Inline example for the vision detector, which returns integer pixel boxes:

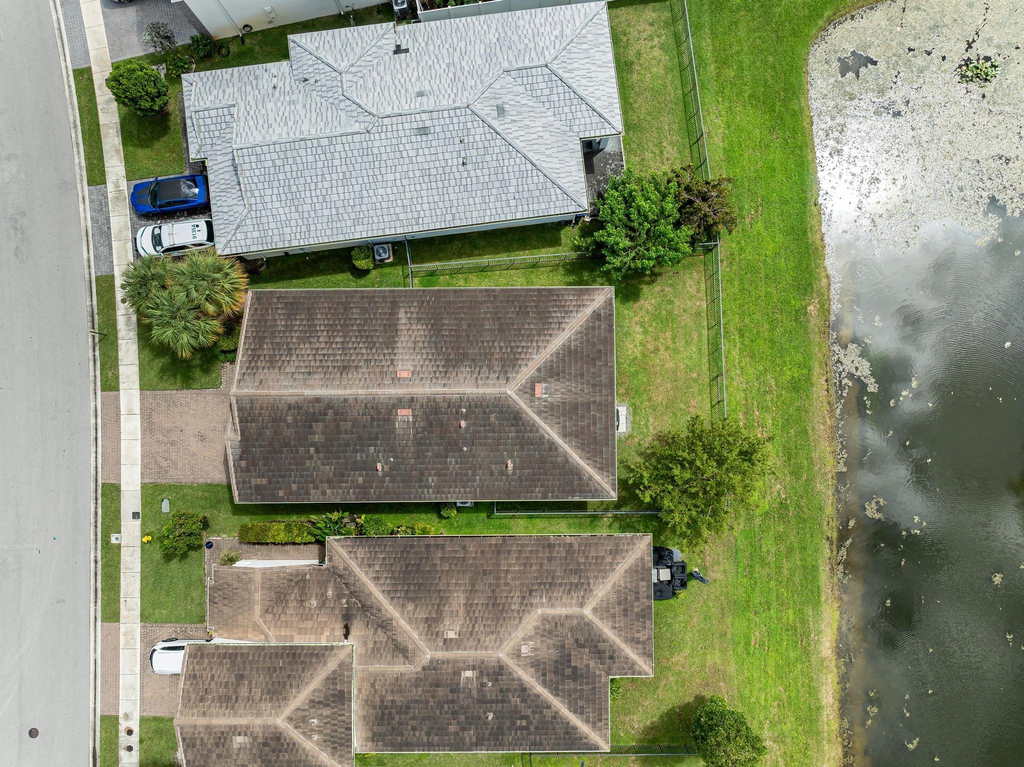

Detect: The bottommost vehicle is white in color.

[150,637,206,676]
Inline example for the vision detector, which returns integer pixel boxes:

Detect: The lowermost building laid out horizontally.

[172,535,654,767]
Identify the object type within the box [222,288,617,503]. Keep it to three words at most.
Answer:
house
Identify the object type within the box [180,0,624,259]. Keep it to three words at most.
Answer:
house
